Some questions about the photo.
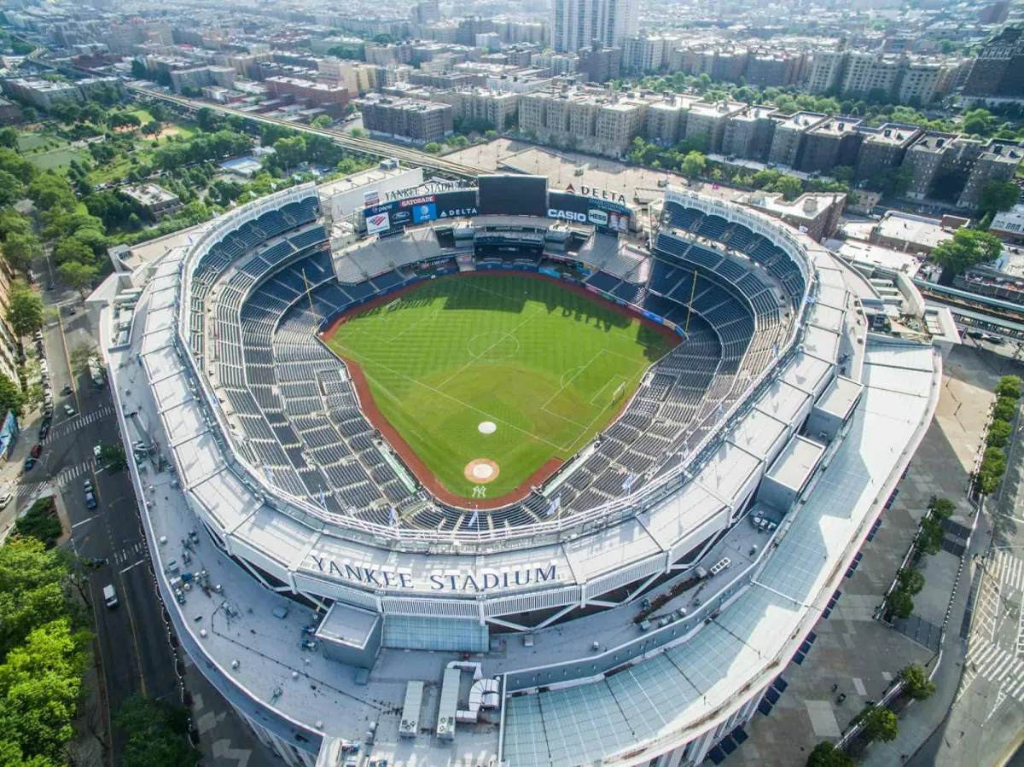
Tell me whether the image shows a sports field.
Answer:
Yes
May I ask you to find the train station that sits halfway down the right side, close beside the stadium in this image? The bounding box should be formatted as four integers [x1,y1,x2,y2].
[911,256,1024,351]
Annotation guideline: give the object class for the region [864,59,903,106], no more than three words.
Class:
building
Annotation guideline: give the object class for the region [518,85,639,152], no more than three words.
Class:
building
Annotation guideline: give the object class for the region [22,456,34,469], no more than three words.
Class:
vehicle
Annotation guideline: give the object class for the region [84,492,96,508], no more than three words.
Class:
vehicle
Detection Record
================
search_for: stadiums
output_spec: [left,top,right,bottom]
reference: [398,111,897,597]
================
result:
[85,157,962,767]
